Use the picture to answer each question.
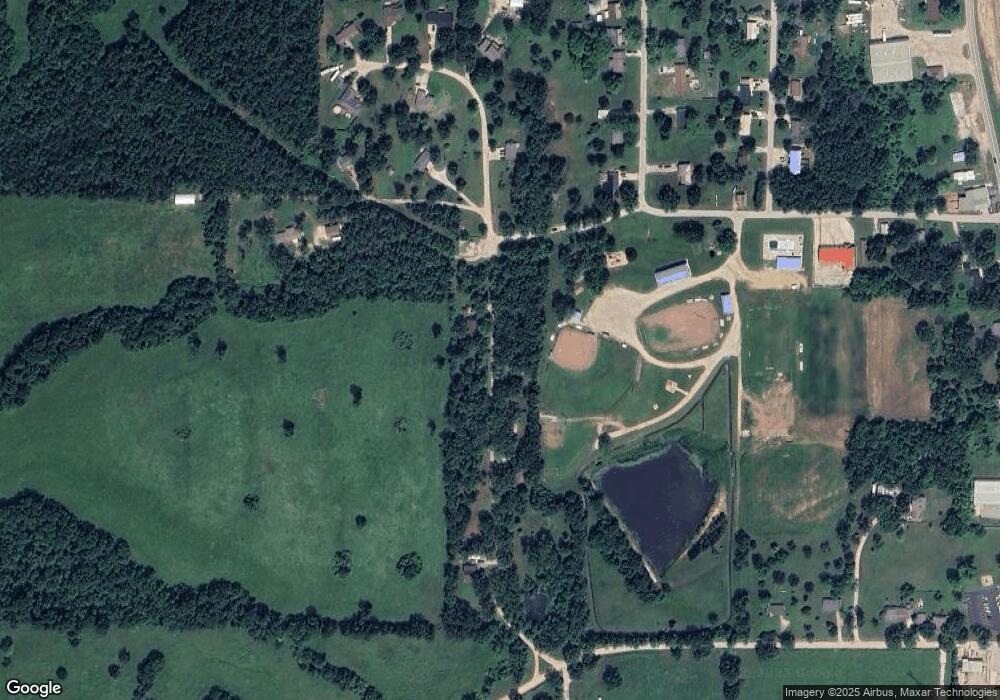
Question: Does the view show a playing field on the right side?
Yes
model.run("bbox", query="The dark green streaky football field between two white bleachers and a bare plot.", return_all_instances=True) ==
[787,288,868,445]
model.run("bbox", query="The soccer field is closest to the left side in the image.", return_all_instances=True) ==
[744,299,799,374]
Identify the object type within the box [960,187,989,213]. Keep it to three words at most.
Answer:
building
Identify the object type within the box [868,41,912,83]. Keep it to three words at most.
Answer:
building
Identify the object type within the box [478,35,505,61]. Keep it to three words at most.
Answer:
house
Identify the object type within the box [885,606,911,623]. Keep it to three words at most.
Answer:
house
